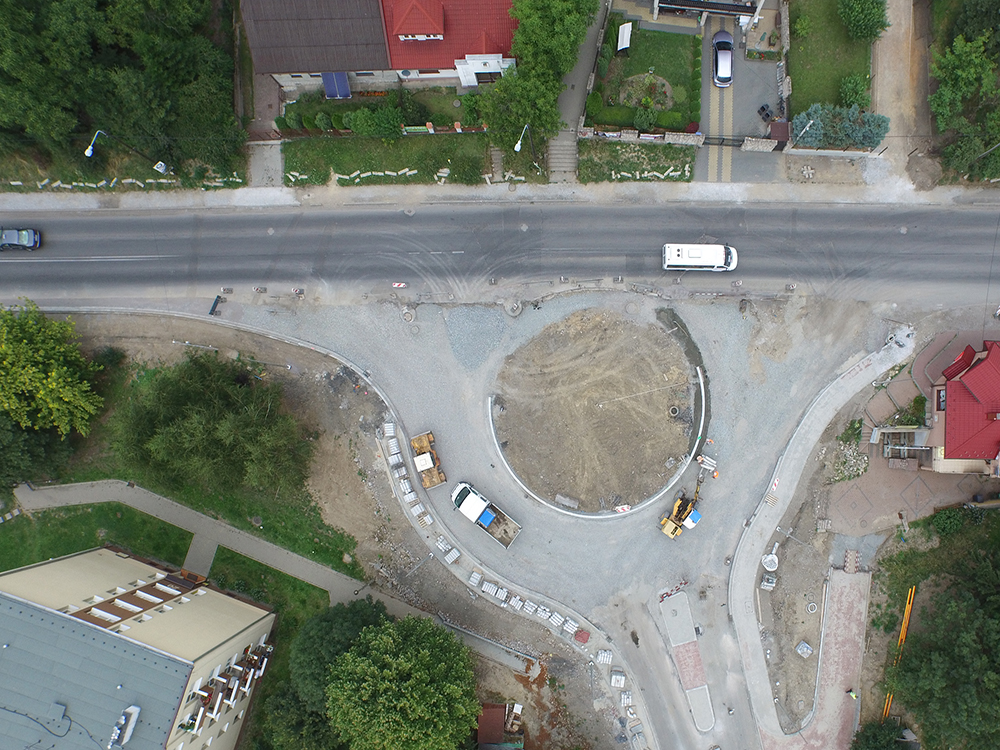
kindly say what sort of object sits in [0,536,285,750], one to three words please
building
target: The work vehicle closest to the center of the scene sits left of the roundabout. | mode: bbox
[408,431,451,491]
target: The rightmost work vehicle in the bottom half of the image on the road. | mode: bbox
[652,456,701,545]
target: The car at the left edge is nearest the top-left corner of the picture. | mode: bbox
[0,229,44,255]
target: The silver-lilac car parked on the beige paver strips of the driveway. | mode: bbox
[709,30,737,88]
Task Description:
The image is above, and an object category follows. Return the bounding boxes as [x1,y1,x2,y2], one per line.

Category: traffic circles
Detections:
[487,307,712,521]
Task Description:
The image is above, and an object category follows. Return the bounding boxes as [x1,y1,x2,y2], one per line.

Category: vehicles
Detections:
[709,30,737,88]
[408,431,451,491]
[451,480,522,551]
[660,240,741,273]
[0,229,44,255]
[652,456,701,545]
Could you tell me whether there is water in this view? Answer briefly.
No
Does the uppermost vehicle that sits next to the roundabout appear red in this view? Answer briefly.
No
